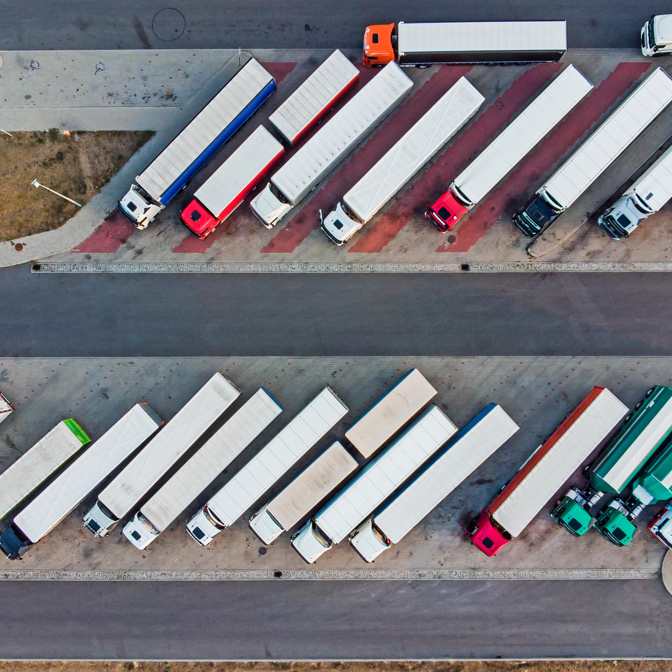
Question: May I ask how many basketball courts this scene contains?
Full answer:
There are no basketball courts in this view.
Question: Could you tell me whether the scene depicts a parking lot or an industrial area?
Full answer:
What you see here is a parking lot.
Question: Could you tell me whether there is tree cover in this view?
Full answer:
No, no tree cover is visible.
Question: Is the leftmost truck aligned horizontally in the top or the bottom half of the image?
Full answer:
You can find the leftmost truck aligned horizontally in the top half.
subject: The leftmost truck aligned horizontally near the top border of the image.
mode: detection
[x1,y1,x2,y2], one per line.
[363,21,566,67]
